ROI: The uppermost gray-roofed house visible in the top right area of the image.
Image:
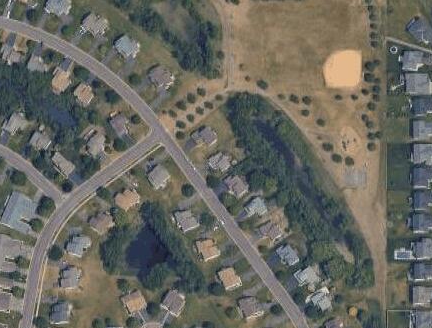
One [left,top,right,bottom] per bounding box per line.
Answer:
[407,17,432,46]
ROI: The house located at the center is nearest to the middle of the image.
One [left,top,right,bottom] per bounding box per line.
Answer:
[211,150,232,174]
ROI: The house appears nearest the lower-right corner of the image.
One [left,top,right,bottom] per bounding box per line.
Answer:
[409,311,432,328]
